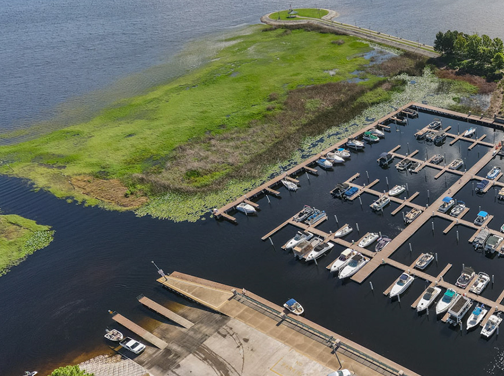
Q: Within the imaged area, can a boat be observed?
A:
Yes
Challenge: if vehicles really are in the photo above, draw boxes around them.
[330,371,350,376]
[119,339,147,352]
